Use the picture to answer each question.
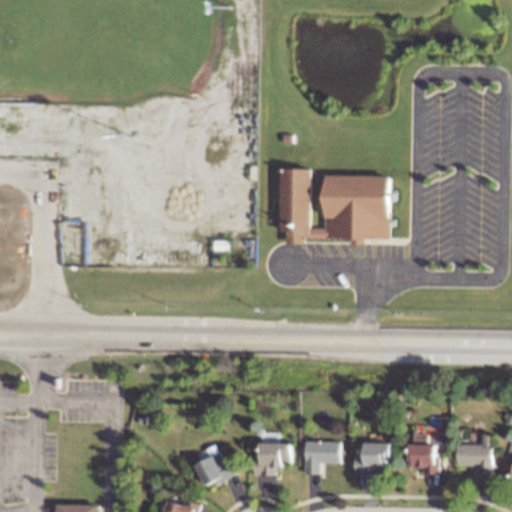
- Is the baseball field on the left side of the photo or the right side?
left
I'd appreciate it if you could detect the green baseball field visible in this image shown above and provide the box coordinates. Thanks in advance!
[0,0,222,106]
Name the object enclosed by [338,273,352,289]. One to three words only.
vehicle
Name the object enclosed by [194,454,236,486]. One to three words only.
house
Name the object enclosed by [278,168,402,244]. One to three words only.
building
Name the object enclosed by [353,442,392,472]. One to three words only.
house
